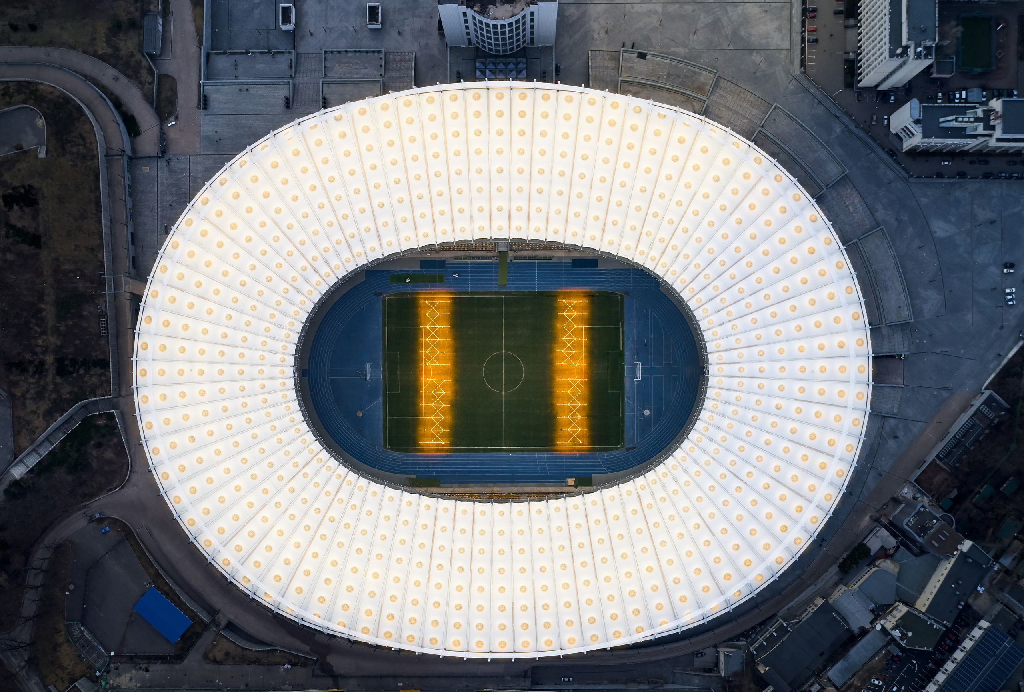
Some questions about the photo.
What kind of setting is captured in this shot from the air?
sports ground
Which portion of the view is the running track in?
center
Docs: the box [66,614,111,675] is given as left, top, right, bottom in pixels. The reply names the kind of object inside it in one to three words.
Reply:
sports court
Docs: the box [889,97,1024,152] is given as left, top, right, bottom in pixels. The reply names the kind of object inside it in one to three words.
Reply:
building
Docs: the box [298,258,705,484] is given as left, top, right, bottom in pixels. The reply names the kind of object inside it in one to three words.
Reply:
running track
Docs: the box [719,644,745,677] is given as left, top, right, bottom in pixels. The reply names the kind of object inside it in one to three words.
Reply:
building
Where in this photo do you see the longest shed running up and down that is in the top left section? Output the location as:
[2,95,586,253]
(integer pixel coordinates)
[142,13,165,59]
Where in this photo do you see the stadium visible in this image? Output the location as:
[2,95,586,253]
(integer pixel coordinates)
[130,77,872,665]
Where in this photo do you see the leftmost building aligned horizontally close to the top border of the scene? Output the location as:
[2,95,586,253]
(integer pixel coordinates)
[436,0,558,60]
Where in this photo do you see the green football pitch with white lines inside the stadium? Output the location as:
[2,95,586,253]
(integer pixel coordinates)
[382,291,625,453]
